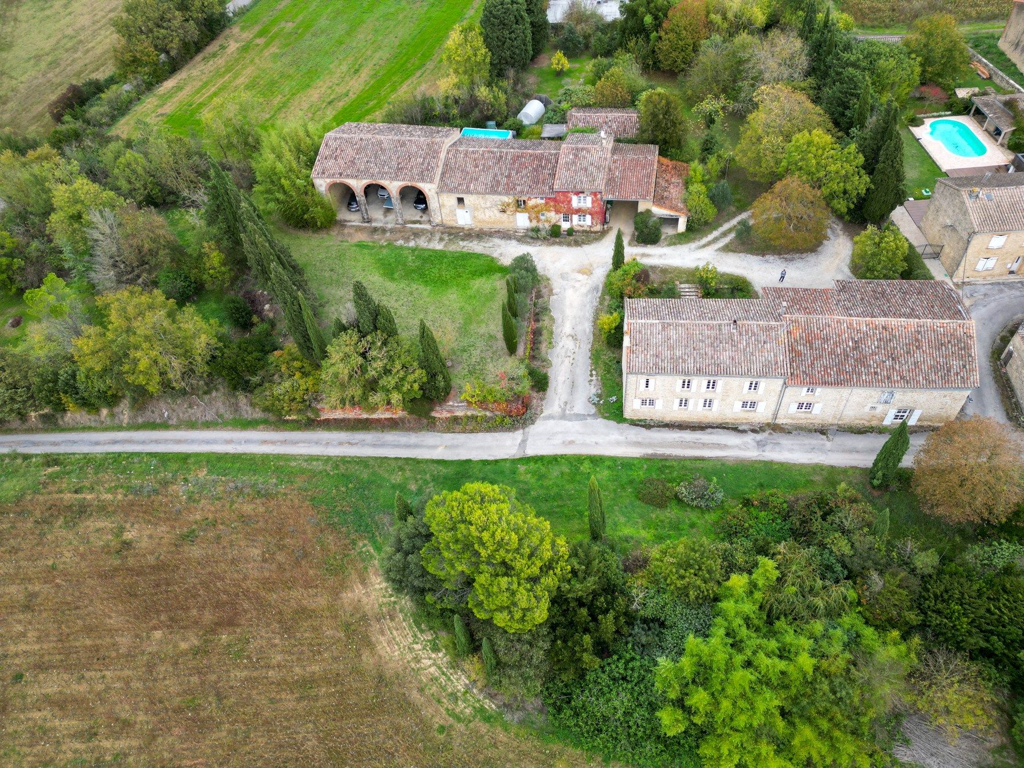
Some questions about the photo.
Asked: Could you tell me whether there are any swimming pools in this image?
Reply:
Yes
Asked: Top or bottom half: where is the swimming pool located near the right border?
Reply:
top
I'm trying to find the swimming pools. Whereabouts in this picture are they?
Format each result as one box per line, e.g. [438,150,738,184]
[460,127,515,139]
[928,118,989,159]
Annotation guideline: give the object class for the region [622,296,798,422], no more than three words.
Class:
house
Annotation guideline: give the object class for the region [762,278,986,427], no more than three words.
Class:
house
